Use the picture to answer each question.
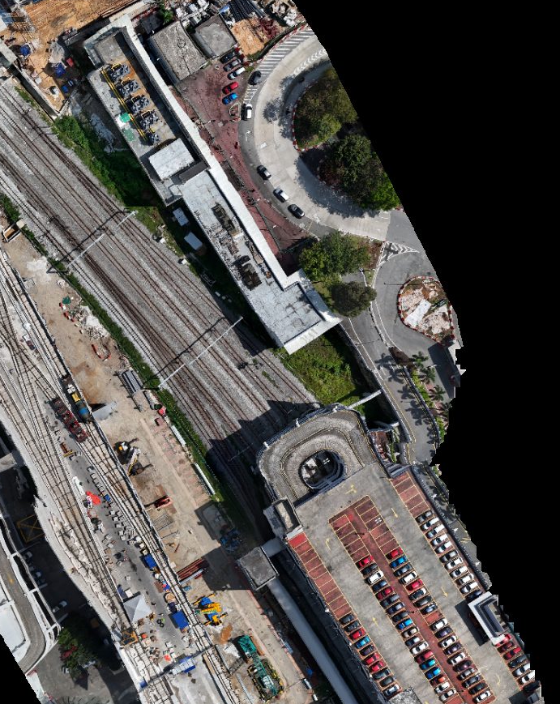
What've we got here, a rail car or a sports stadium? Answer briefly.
rail car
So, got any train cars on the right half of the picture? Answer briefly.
No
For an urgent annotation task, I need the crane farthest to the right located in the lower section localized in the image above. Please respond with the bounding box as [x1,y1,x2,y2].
[234,634,282,697]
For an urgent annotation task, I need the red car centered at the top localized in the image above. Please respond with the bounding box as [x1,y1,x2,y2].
[222,81,238,94]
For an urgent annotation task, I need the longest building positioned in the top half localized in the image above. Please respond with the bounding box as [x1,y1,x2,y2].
[82,17,341,353]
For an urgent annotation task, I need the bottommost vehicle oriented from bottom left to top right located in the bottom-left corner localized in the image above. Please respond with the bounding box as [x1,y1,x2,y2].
[51,599,68,613]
